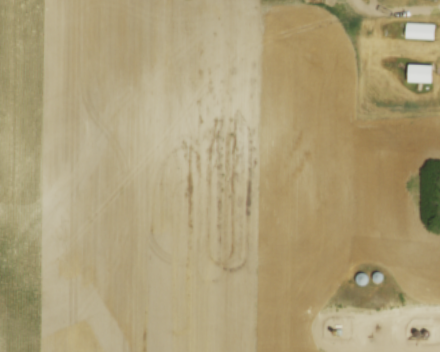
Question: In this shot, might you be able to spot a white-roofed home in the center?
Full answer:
No, no white-roofed home appears in the center.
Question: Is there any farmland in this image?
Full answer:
Yes, the picture does contain farmland.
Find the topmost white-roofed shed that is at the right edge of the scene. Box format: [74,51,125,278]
[405,23,435,40]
